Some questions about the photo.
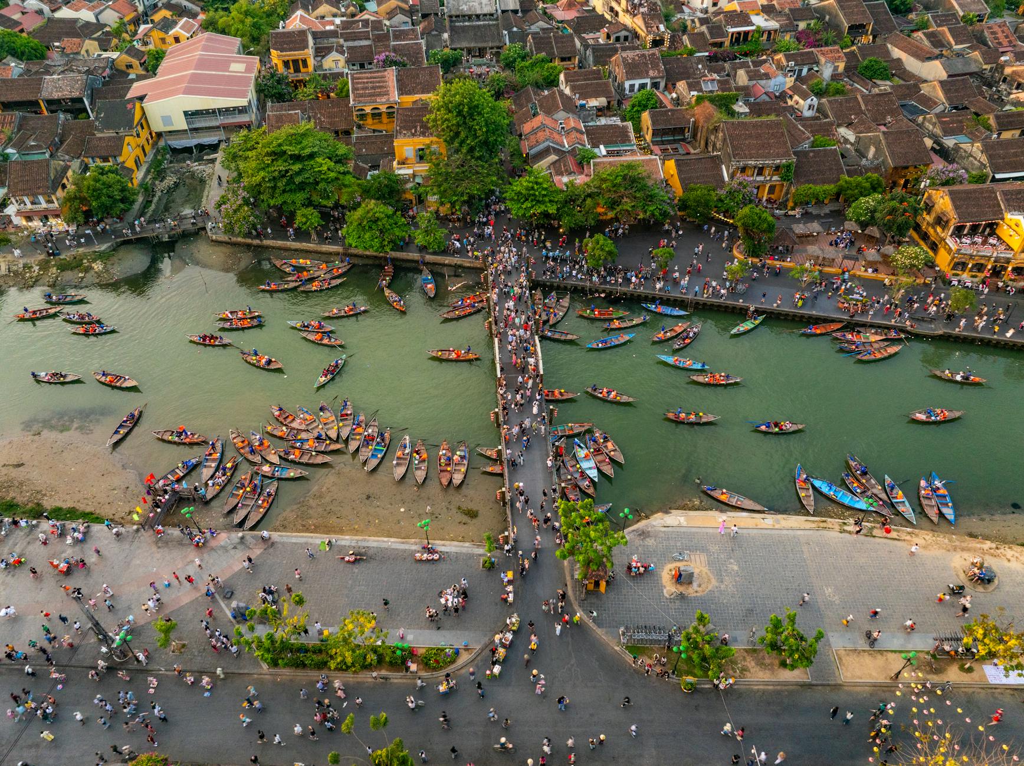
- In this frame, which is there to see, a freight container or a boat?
boat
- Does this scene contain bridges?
Yes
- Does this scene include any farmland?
No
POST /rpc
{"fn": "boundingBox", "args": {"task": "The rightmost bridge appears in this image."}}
[487,256,565,554]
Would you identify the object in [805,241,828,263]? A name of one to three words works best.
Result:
umbrella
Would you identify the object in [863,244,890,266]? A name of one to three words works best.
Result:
umbrella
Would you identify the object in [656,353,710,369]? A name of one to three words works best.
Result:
boat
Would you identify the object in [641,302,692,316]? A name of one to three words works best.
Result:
boat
